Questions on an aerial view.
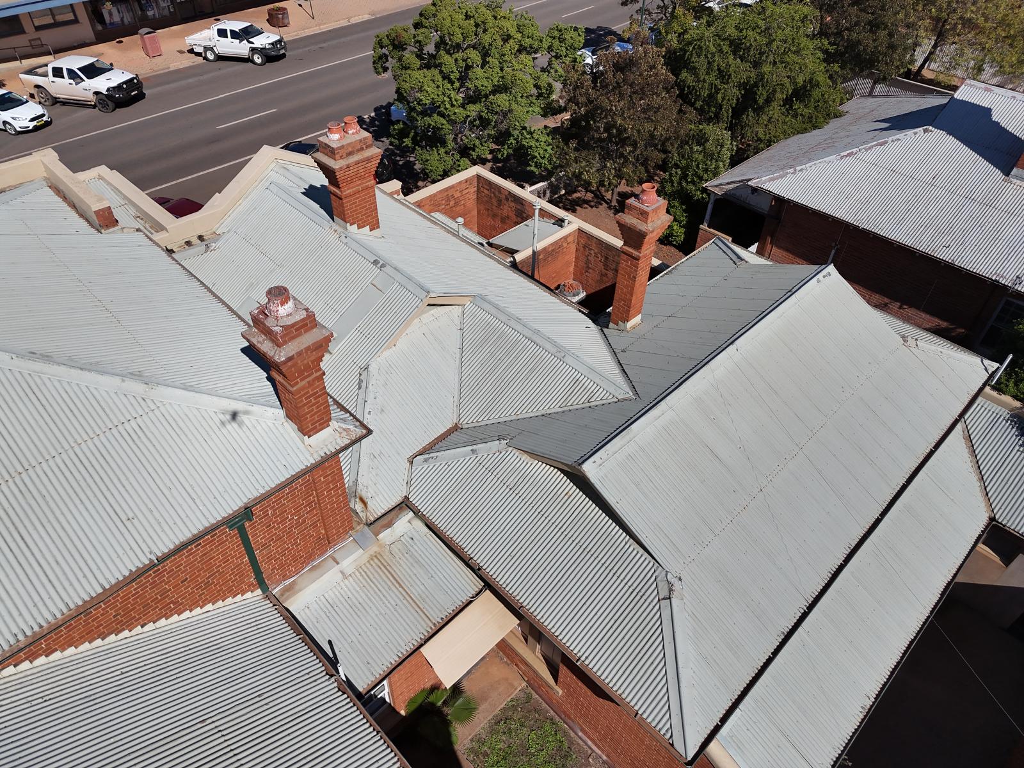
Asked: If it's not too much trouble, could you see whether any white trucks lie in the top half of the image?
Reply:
Yes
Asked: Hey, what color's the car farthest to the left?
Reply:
white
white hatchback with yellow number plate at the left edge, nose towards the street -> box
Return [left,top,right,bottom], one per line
[0,89,51,130]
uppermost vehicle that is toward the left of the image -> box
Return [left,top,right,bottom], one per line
[184,23,281,65]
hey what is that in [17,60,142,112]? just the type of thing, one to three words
truck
